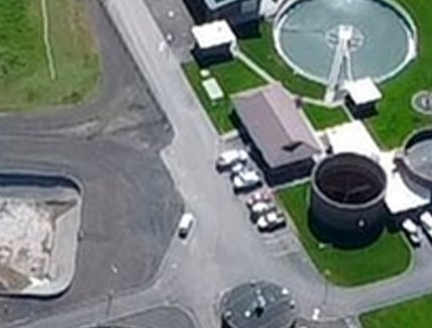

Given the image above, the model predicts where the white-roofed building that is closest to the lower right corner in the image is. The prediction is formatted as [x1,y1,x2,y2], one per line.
[325,120,432,221]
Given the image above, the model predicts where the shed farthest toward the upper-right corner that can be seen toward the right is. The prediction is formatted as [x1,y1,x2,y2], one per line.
[345,78,382,112]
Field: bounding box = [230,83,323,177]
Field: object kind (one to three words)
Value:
house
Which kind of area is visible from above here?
industrial area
